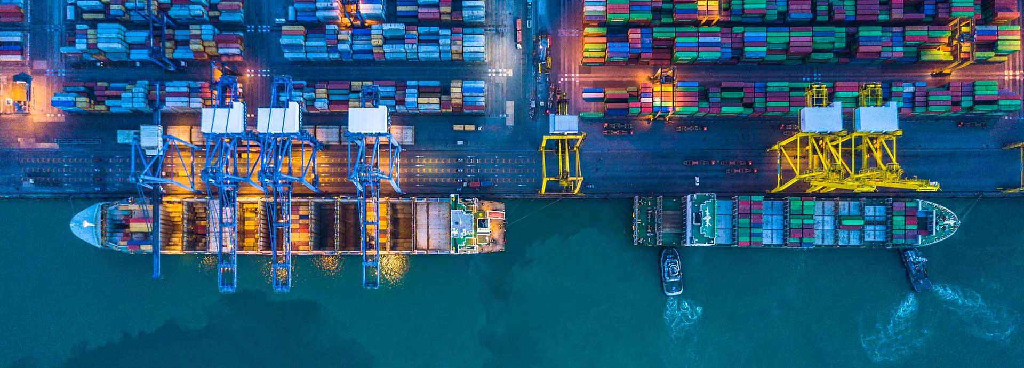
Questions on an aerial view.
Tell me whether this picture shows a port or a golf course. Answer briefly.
port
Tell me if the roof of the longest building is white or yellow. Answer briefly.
yellow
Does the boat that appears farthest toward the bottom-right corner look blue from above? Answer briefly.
Yes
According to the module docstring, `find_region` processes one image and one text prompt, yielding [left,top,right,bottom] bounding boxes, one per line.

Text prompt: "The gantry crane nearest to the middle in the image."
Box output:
[532,90,586,194]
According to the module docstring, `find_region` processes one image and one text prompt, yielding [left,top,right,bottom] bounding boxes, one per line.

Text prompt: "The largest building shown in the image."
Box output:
[7,79,27,112]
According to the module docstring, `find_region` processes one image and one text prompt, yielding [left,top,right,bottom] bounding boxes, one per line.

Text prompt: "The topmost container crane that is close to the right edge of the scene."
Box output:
[931,15,978,75]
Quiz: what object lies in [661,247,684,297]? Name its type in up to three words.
boat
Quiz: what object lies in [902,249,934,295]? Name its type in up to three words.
boat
